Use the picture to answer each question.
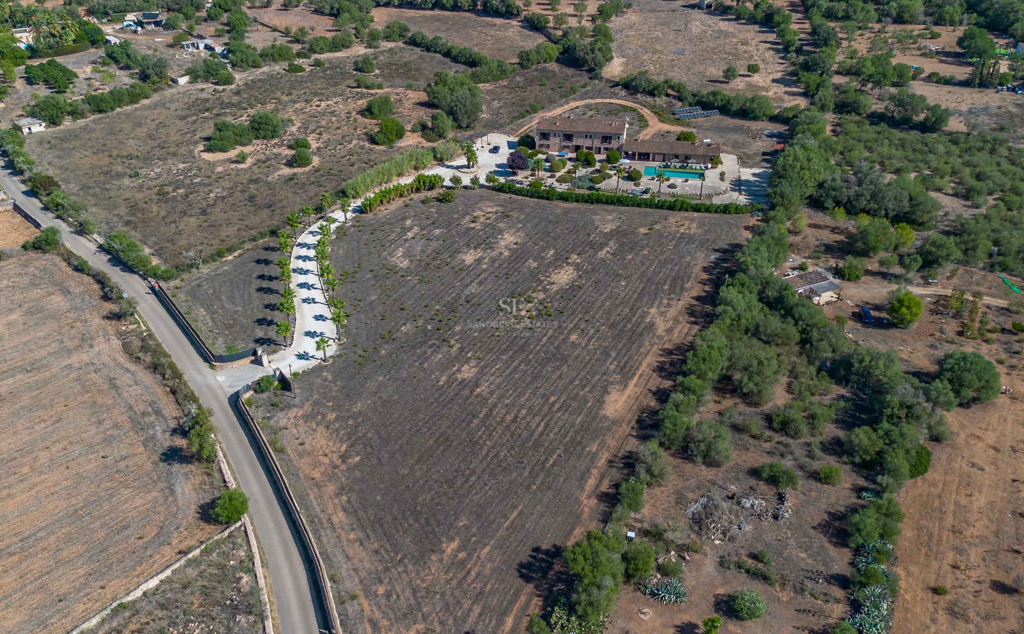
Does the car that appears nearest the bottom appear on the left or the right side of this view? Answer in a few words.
right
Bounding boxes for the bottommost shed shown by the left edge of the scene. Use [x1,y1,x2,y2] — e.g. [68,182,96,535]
[9,114,46,133]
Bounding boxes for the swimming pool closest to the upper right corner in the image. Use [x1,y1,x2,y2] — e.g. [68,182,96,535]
[642,165,706,181]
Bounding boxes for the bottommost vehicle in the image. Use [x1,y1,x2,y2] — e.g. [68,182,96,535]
[854,301,882,324]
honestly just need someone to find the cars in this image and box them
[854,301,882,324]
[466,142,483,151]
[491,145,501,154]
